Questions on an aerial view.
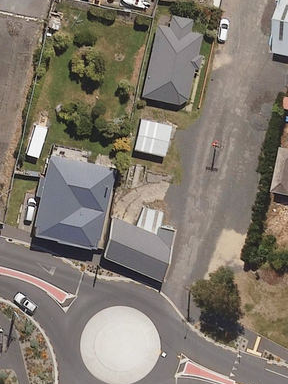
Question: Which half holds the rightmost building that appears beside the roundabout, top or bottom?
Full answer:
Seen from above, the rightmost building that appears beside the roundabout lies in the bottom half of the view.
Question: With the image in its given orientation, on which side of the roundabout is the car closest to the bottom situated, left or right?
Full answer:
To the left of the roundabout is where the car closest to the bottom appears.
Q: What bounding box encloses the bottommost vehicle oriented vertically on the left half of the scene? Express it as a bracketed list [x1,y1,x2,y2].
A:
[24,198,36,225]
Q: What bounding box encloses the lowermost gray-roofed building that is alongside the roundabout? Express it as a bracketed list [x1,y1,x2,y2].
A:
[104,218,177,284]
